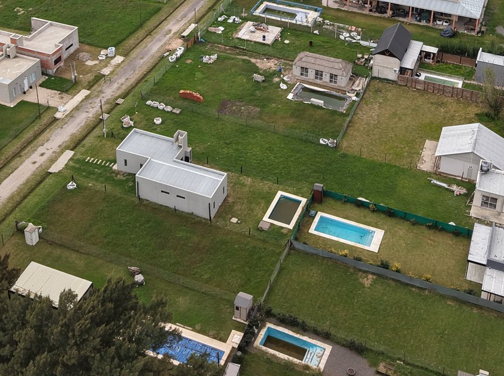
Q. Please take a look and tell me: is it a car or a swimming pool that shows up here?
swimming pool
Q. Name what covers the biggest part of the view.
grass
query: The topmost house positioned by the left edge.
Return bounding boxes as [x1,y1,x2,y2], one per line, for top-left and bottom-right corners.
[0,22,80,74]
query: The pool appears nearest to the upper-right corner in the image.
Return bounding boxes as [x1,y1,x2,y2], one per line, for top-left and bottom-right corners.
[424,70,464,85]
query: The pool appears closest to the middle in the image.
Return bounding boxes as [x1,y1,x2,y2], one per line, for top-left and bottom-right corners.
[264,191,308,229]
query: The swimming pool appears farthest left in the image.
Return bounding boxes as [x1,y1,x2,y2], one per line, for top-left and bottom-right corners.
[153,321,230,372]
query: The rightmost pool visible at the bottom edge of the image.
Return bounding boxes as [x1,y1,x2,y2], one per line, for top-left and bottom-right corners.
[256,322,332,367]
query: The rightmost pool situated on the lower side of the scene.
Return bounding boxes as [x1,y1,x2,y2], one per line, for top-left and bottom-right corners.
[310,211,385,251]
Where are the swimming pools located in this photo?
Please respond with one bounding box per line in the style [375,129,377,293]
[287,83,352,111]
[310,211,385,251]
[256,322,332,367]
[424,70,464,85]
[153,321,230,372]
[254,0,318,21]
[264,191,308,229]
